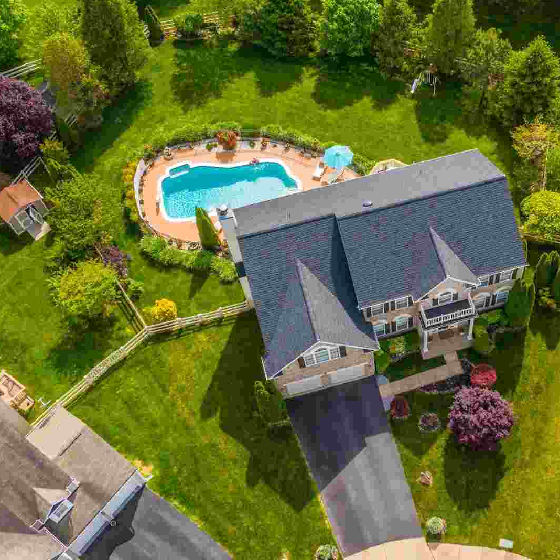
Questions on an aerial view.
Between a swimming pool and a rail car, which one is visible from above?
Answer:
swimming pool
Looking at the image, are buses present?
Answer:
No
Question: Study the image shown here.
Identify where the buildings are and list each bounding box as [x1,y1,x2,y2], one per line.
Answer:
[0,180,45,238]
[218,146,532,397]
[0,395,145,560]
